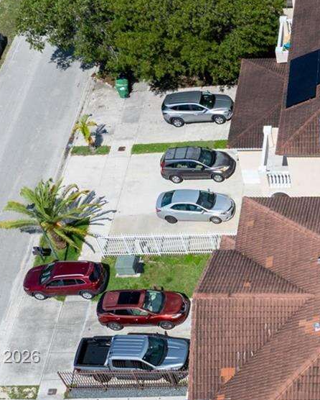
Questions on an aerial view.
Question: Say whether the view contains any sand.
No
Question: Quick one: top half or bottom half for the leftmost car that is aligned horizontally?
bottom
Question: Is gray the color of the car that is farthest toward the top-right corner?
Yes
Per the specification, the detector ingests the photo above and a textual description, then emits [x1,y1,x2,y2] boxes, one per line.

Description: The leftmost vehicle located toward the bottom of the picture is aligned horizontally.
[21,257,111,300]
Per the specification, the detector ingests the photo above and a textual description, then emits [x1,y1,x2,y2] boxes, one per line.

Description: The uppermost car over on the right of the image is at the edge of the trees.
[161,90,235,127]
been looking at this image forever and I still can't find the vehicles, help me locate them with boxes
[72,333,189,382]
[21,257,111,300]
[154,189,237,226]
[95,287,191,331]
[158,146,237,184]
[161,90,235,127]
